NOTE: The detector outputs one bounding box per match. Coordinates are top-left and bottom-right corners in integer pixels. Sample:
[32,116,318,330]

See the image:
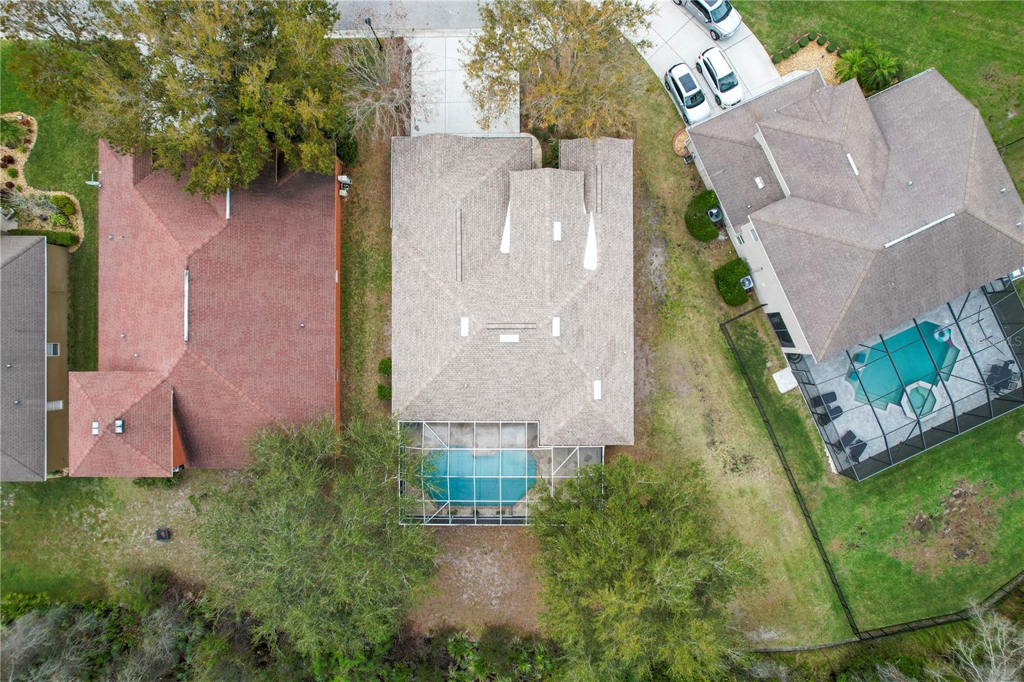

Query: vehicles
[665,60,714,127]
[696,42,747,109]
[677,0,744,41]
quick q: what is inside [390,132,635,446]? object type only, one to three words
house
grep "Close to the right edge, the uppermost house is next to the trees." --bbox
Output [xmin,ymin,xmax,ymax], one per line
[687,65,1024,364]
